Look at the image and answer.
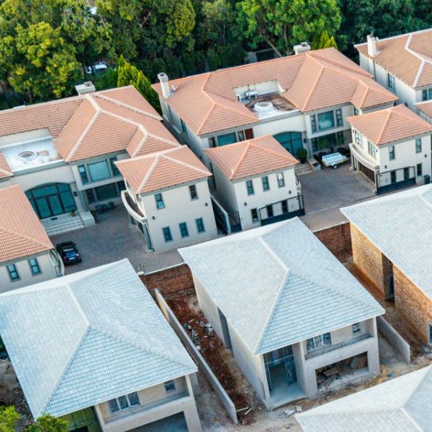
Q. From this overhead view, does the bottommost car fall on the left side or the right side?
left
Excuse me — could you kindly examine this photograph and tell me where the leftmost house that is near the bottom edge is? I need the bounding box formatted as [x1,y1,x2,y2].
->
[0,260,202,432]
